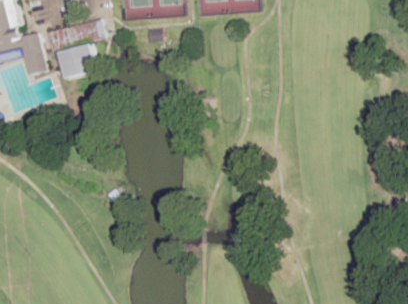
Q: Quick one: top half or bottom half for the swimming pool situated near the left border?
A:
top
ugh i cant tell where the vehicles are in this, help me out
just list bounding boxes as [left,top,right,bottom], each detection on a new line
[30,2,40,6]
[36,20,44,24]
[32,7,43,12]
[102,2,111,8]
